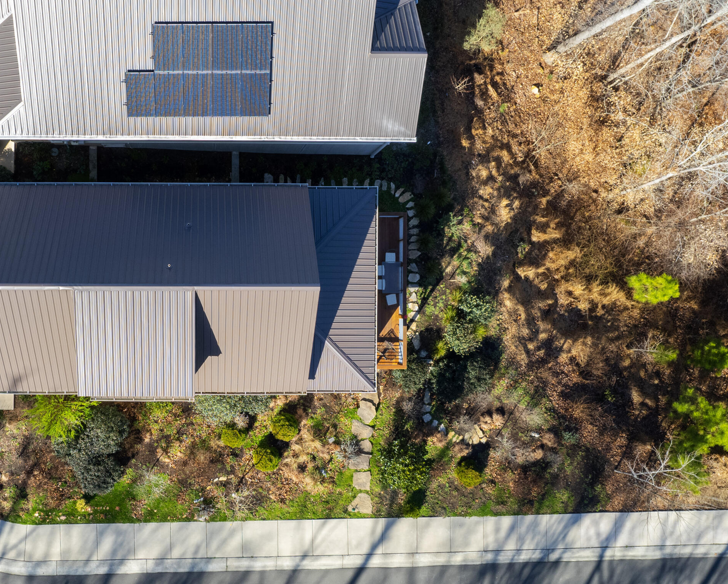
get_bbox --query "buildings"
[0,182,377,402]
[0,0,428,159]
